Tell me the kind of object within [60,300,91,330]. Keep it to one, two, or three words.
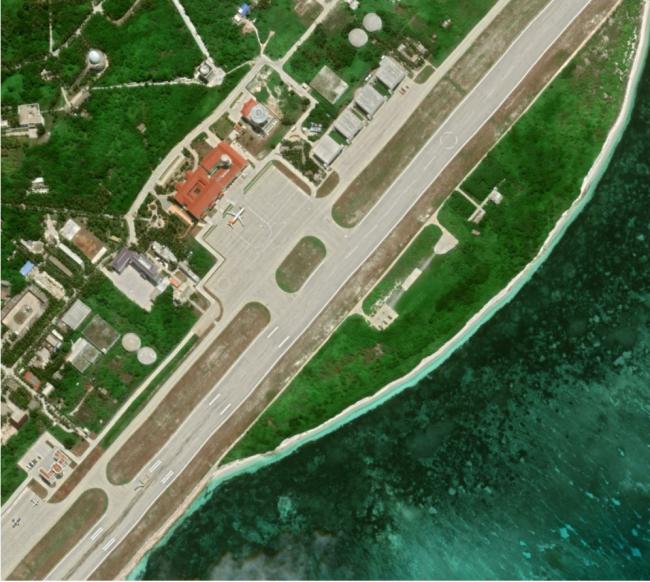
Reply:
building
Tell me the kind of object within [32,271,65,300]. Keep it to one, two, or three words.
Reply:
house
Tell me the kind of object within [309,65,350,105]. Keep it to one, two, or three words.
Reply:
sports court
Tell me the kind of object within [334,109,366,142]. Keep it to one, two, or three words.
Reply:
hangar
